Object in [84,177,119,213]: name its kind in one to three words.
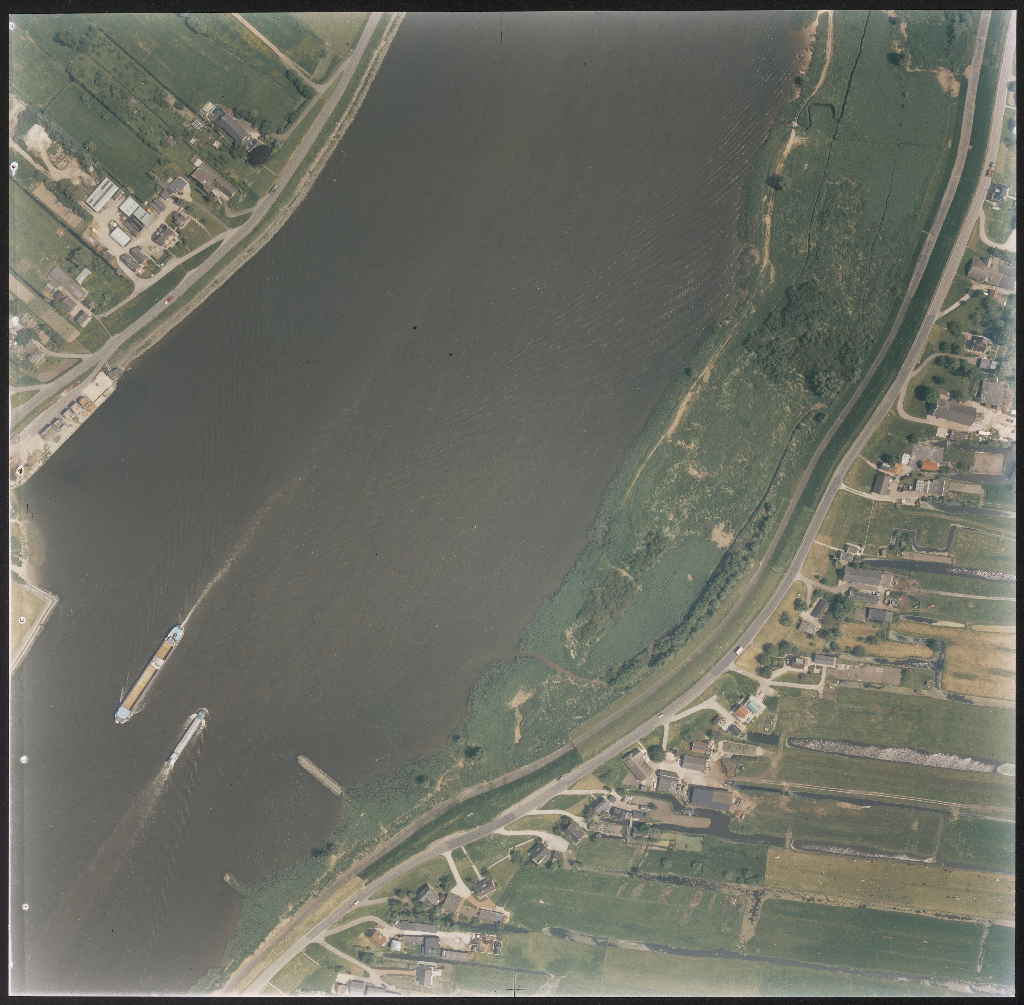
building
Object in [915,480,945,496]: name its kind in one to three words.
greenhouse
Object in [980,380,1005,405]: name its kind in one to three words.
barn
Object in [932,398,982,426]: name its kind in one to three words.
house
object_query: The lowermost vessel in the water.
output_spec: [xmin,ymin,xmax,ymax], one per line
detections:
[168,710,204,766]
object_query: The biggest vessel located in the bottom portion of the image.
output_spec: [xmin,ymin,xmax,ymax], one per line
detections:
[113,624,185,723]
